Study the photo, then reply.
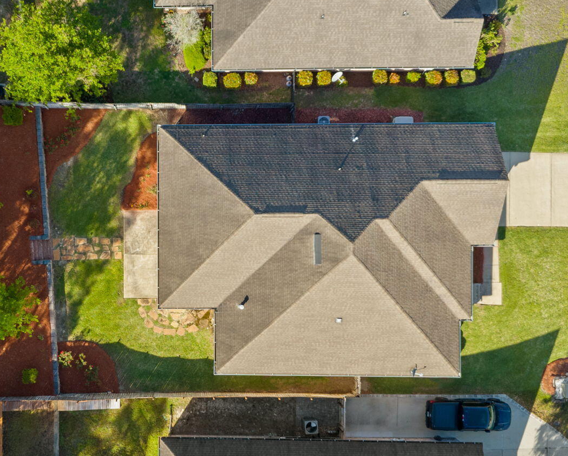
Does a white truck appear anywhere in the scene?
No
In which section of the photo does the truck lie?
bottom right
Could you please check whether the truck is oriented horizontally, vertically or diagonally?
horizontally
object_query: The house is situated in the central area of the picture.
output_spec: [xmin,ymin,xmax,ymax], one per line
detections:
[155,122,509,378]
